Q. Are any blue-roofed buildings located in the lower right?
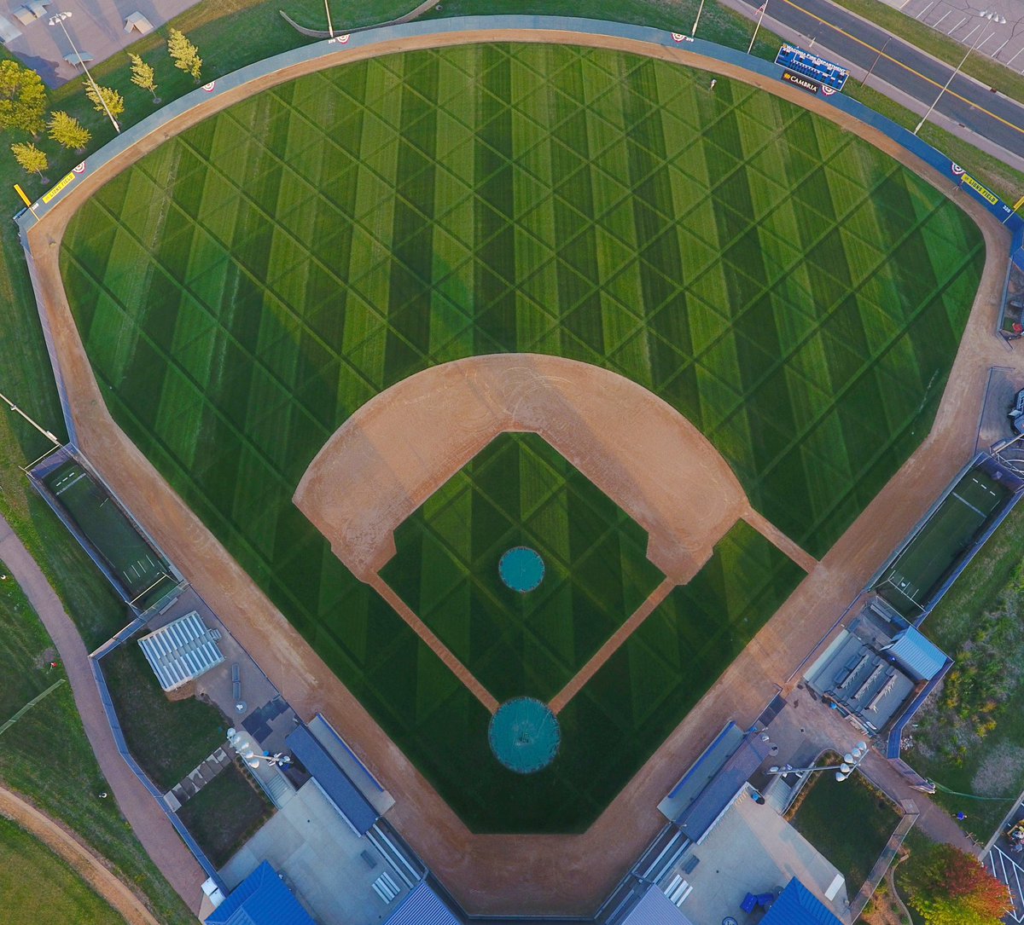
Yes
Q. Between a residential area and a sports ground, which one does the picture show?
sports ground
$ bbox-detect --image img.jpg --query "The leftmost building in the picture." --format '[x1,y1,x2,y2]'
[202,860,321,925]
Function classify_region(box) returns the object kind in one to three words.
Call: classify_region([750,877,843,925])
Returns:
building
